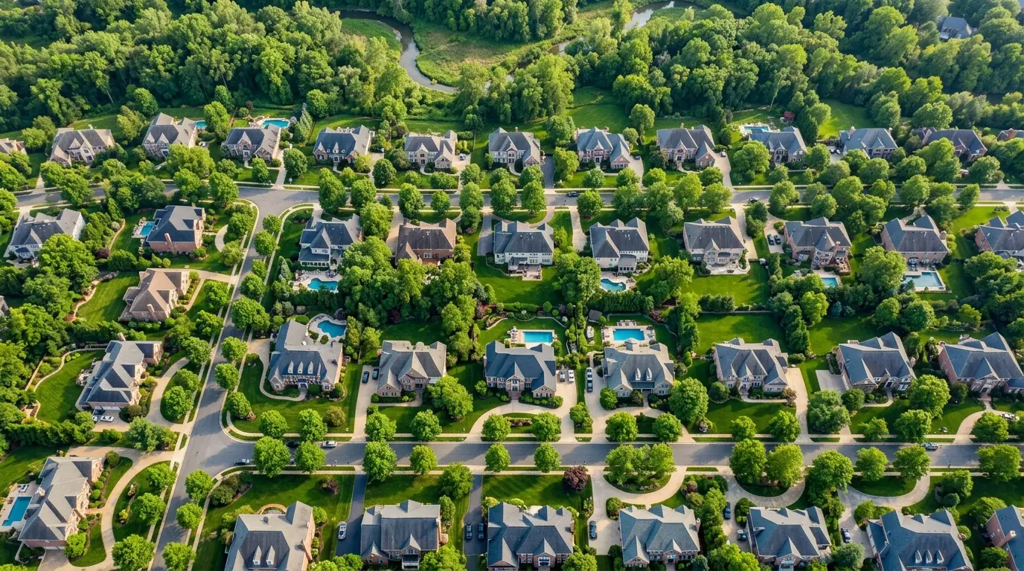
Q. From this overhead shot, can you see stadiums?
No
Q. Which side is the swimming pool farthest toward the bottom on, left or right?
left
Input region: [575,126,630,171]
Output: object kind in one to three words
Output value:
house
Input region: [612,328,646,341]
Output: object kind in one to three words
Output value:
swimming pool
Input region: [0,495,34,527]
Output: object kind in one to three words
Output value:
swimming pool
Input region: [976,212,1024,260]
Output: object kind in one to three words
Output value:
house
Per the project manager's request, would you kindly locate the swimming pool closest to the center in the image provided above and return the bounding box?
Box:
[522,331,554,343]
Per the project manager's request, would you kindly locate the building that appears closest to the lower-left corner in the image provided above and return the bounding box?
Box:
[18,453,107,548]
